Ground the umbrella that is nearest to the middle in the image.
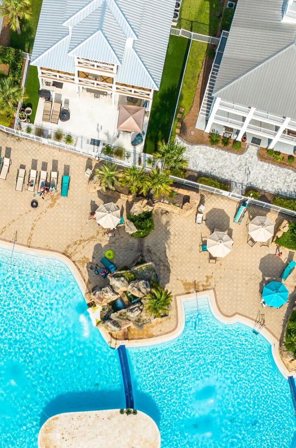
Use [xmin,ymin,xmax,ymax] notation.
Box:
[95,202,122,230]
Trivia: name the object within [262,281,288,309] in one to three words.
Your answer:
umbrella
